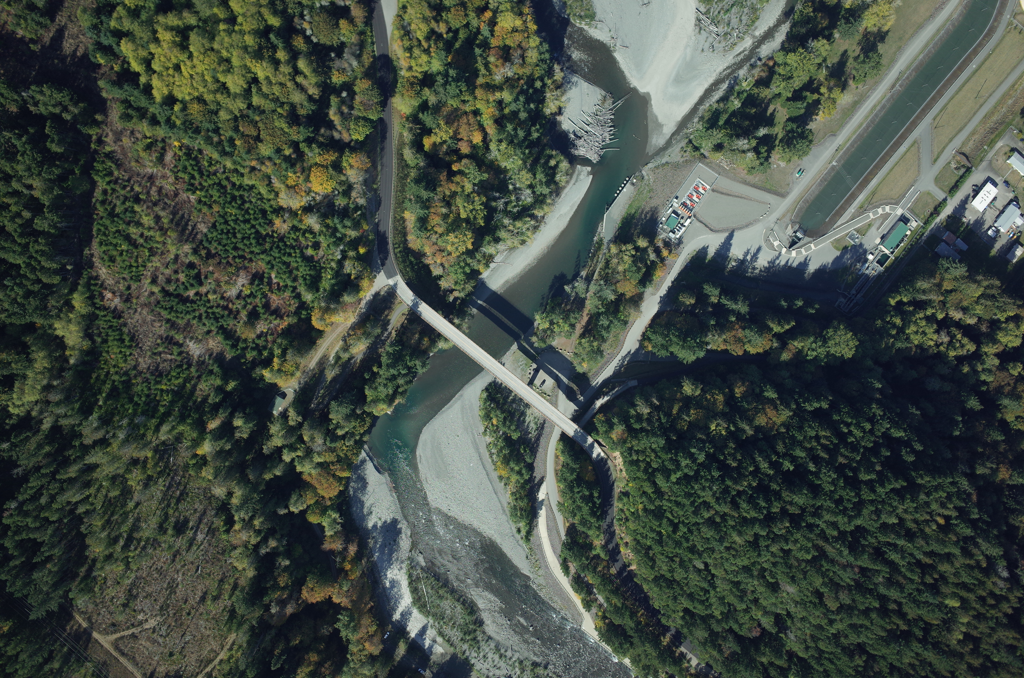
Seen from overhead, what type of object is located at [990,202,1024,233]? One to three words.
barn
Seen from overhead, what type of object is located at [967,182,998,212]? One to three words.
building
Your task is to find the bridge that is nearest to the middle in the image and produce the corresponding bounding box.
[386,271,603,459]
